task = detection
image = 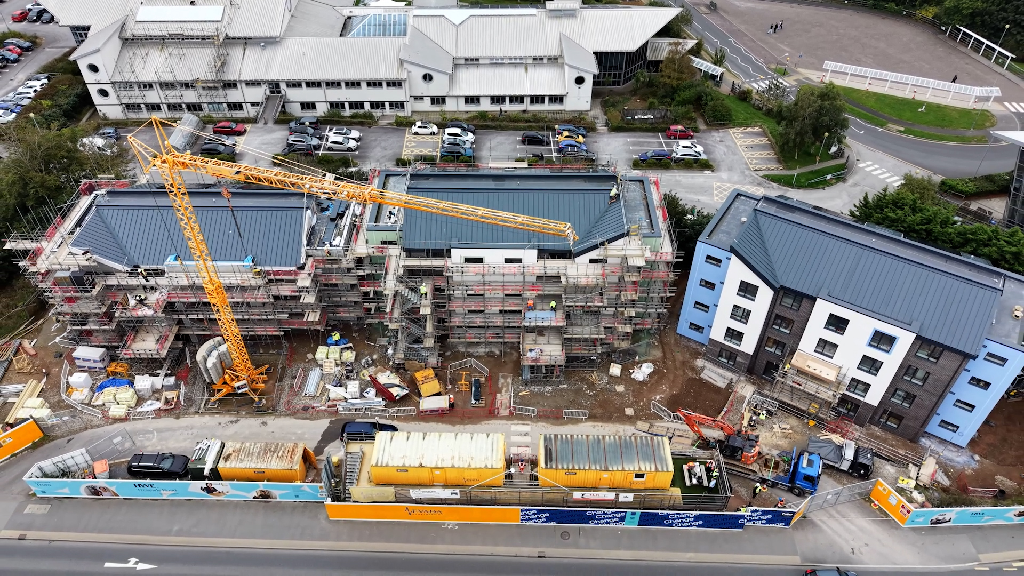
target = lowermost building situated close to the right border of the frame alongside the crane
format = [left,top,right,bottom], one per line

[677,187,1024,447]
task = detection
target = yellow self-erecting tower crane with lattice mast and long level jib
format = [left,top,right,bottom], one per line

[125,113,587,408]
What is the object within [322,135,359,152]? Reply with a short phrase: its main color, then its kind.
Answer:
white car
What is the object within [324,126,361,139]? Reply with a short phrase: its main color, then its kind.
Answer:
white vehicle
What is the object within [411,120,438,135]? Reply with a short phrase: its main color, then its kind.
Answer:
white car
